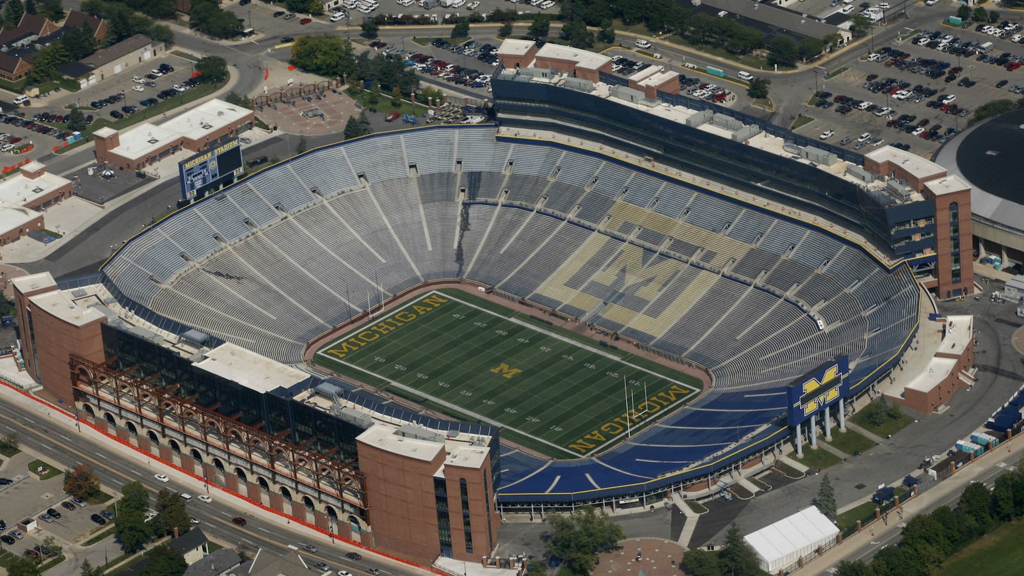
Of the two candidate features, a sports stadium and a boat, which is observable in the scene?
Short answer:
sports stadium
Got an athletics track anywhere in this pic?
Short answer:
No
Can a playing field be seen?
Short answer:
Yes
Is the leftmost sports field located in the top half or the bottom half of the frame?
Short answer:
bottom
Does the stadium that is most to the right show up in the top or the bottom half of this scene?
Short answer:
top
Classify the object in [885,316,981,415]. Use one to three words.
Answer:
building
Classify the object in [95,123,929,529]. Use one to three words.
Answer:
stadium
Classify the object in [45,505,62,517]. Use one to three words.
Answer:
vehicle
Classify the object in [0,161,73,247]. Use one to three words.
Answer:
building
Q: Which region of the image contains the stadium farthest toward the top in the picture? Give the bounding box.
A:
[930,103,1024,286]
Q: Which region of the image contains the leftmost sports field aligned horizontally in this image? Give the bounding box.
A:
[312,288,705,461]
